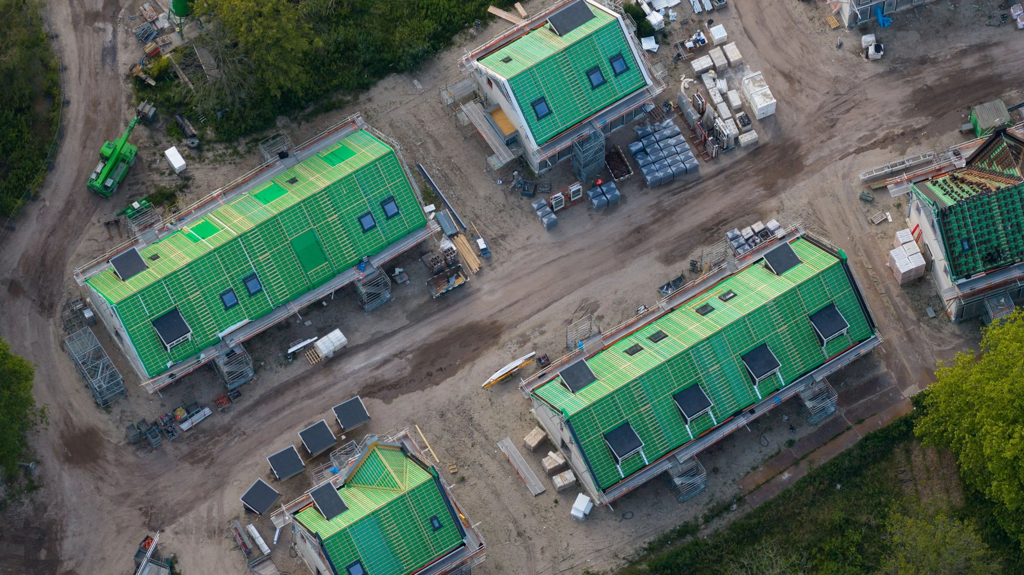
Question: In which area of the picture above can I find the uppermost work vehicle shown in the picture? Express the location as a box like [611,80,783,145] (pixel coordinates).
[86,101,155,199]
